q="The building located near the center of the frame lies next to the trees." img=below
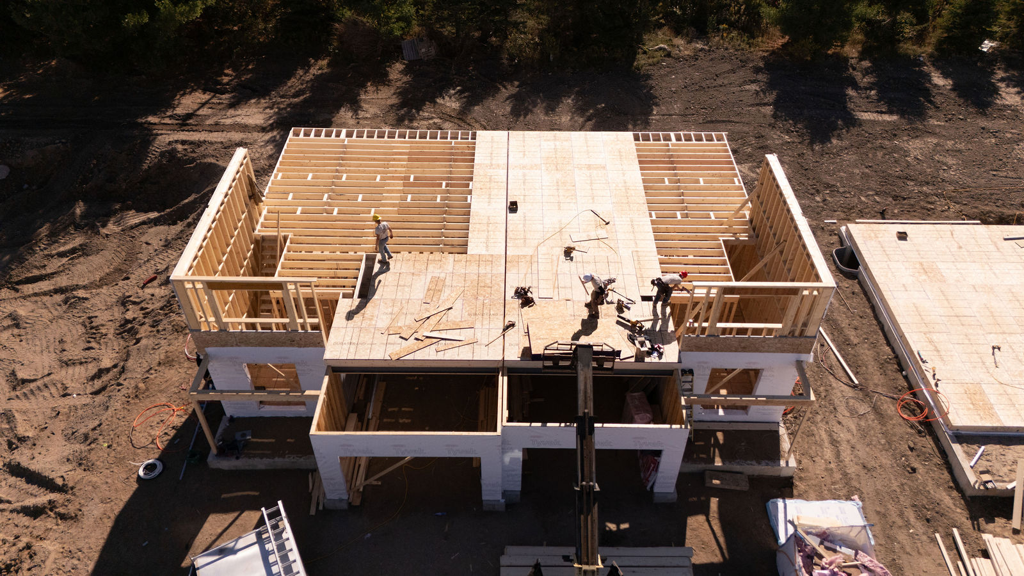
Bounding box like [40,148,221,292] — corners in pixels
[174,128,834,501]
